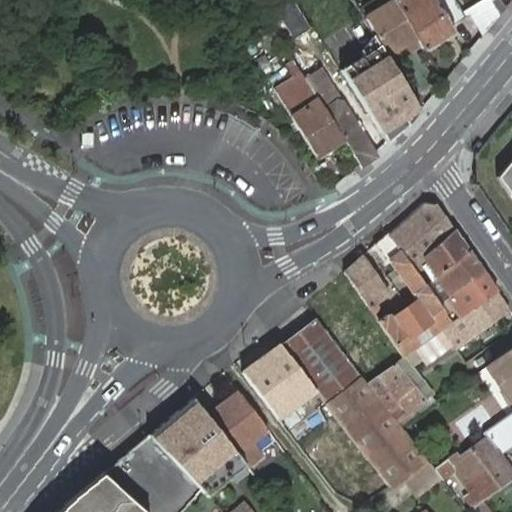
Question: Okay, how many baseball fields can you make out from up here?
0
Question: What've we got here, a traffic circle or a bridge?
traffic circle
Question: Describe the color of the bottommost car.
white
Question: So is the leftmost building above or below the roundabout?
below it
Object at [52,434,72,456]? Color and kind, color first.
white car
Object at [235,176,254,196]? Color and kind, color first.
white car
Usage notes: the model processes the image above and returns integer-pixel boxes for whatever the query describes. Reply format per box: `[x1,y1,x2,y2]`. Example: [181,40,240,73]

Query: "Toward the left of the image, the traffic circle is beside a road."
[78,187,260,368]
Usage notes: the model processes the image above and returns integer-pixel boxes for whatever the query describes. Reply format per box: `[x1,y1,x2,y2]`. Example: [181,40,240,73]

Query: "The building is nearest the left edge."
[64,474,145,512]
